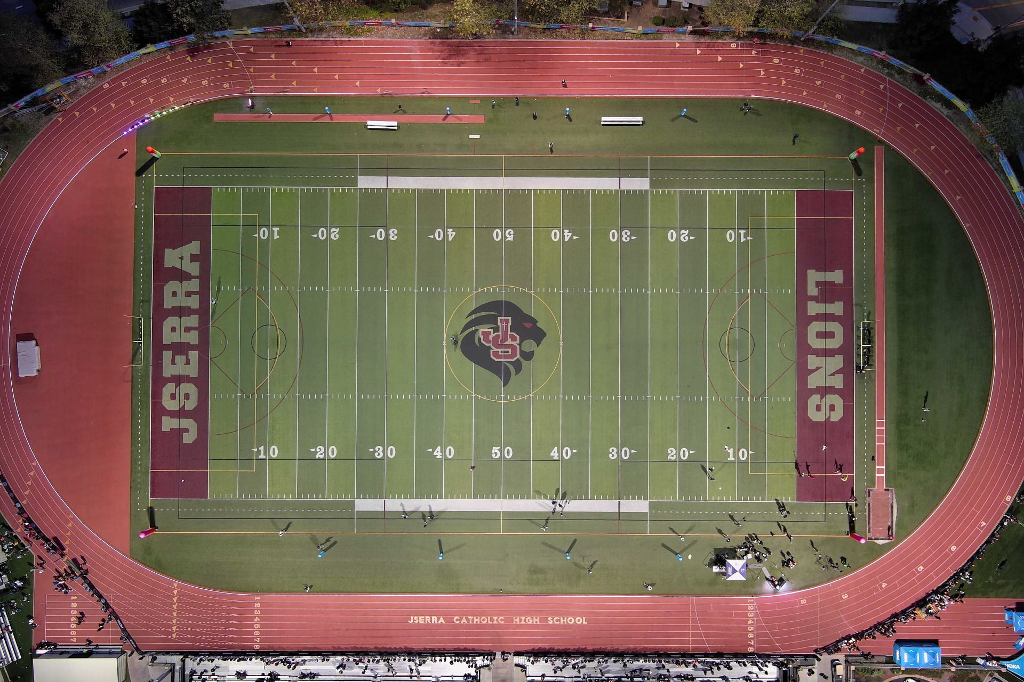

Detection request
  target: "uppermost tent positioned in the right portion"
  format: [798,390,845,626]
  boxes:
[722,556,746,580]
